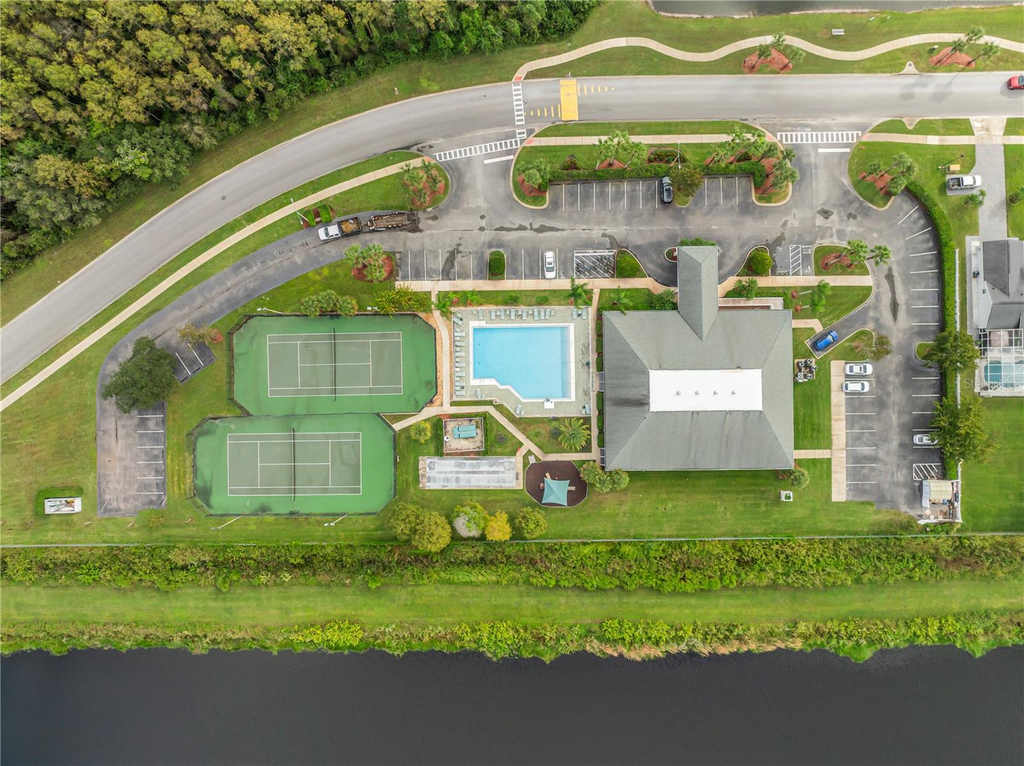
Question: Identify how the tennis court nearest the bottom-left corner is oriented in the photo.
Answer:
from side to side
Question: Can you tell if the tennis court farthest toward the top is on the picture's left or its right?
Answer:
left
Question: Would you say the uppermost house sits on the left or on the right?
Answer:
right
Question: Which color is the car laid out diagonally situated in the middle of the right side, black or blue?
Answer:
blue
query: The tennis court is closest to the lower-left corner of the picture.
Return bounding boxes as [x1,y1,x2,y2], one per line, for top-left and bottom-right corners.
[194,415,394,516]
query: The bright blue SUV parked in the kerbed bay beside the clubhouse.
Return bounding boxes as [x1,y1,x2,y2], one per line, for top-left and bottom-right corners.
[814,329,840,351]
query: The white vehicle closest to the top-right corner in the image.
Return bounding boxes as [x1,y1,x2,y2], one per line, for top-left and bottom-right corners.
[949,173,984,188]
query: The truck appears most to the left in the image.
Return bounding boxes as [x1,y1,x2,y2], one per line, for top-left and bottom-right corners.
[316,215,362,236]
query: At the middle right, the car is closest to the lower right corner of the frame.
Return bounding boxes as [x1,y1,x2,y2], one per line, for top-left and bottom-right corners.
[913,433,941,446]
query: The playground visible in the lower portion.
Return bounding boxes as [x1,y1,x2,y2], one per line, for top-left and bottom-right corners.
[525,460,588,508]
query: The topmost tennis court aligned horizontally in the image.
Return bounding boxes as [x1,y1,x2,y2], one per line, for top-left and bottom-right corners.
[233,314,437,416]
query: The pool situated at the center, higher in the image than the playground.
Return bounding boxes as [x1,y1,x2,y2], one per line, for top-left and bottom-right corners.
[452,306,591,417]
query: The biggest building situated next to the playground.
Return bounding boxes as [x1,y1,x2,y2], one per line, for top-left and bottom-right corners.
[600,246,794,472]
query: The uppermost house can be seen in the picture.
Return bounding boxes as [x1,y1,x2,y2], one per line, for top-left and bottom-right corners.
[974,238,1024,329]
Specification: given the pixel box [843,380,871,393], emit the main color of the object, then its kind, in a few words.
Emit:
white vehicle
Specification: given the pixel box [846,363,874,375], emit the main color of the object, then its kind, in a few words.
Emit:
white vehicle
